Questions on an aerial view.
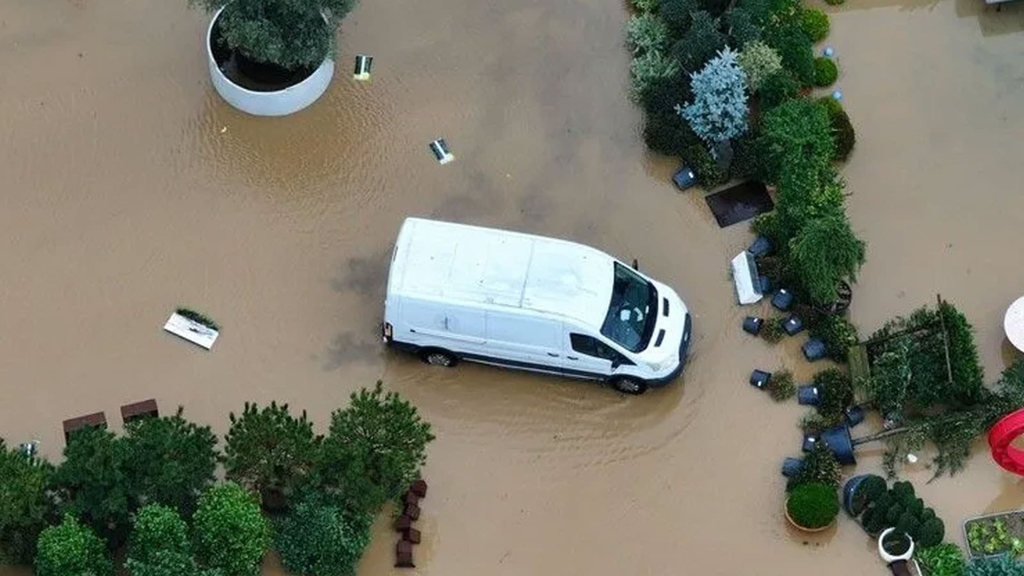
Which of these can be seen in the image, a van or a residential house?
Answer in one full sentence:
I can see a van in this picture.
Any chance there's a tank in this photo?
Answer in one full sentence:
No, no tank is visible in the view.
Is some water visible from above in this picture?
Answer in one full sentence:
Yes, water shows up in the scene.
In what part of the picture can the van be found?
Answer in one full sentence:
The van sits in the center section of the image.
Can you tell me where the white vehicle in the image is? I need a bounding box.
[379,222,690,392]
